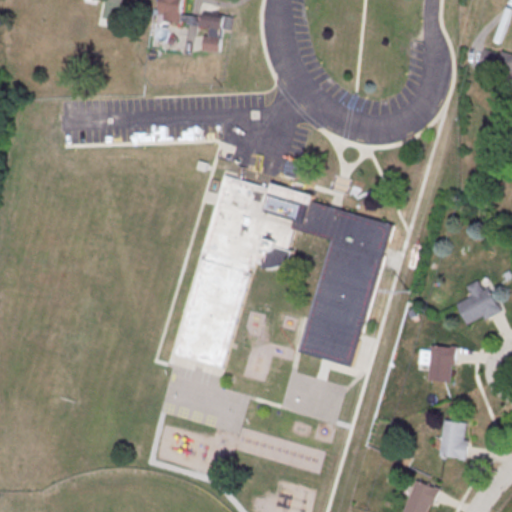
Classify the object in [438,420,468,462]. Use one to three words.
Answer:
house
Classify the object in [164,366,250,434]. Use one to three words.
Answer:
sports court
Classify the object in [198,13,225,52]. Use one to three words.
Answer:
house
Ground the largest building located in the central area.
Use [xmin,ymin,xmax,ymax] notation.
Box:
[173,168,394,368]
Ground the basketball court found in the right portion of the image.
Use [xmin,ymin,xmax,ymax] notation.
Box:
[282,371,347,423]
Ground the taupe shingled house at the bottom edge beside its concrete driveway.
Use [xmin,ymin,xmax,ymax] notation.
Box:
[404,481,439,512]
